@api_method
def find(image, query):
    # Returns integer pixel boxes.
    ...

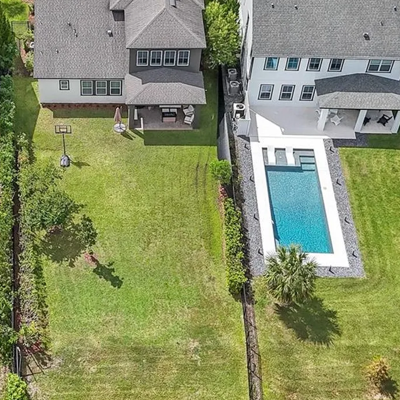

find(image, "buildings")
[31,0,208,129]
[237,0,400,133]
